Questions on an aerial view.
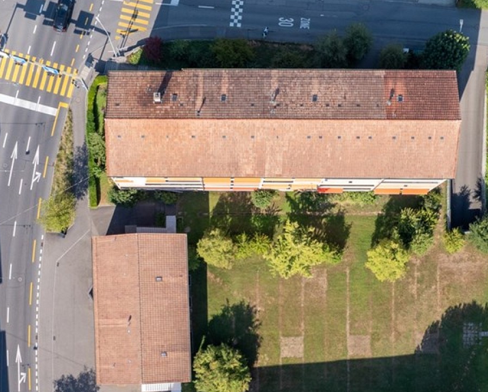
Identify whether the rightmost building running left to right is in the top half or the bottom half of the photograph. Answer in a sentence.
The top half of the photo is where the rightmost building running left to right is.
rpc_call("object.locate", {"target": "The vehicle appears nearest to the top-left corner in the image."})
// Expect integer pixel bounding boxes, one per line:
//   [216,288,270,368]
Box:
[54,0,73,33]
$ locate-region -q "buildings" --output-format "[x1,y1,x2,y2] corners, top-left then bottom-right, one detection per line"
[89,216,191,392]
[105,70,461,197]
